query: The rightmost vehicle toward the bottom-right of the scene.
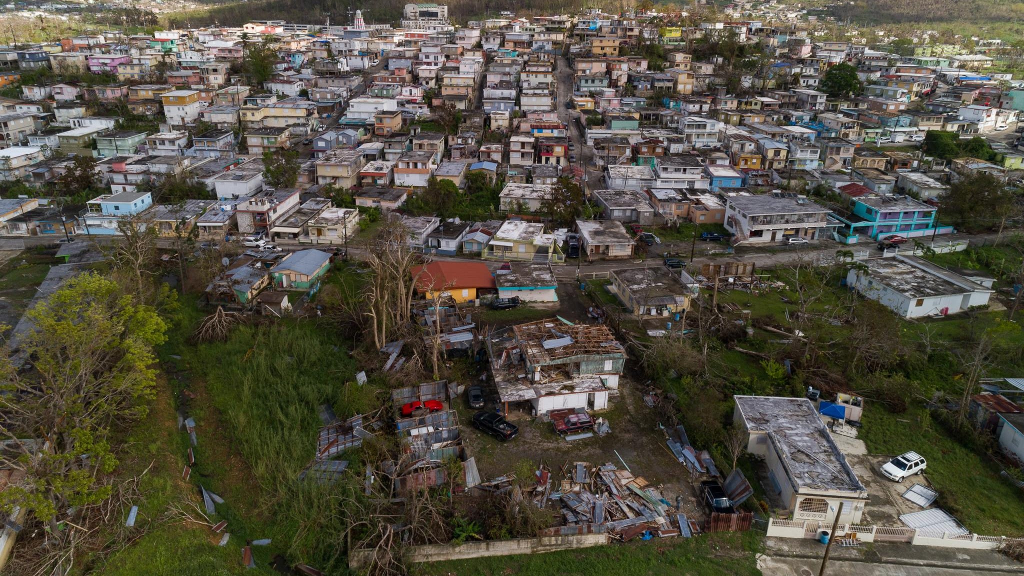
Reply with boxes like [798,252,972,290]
[882,452,929,480]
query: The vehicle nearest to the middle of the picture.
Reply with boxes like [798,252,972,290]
[491,295,521,309]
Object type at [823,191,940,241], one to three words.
house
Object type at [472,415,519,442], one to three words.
truck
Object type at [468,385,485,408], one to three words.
car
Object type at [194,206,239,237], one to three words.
house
